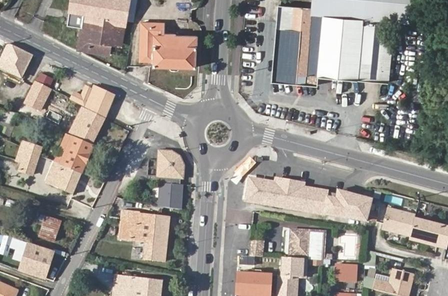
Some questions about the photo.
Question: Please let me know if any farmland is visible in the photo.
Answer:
No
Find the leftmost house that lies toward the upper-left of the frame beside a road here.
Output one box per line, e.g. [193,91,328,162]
[0,44,32,82]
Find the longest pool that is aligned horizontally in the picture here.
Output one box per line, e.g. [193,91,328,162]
[382,194,404,207]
